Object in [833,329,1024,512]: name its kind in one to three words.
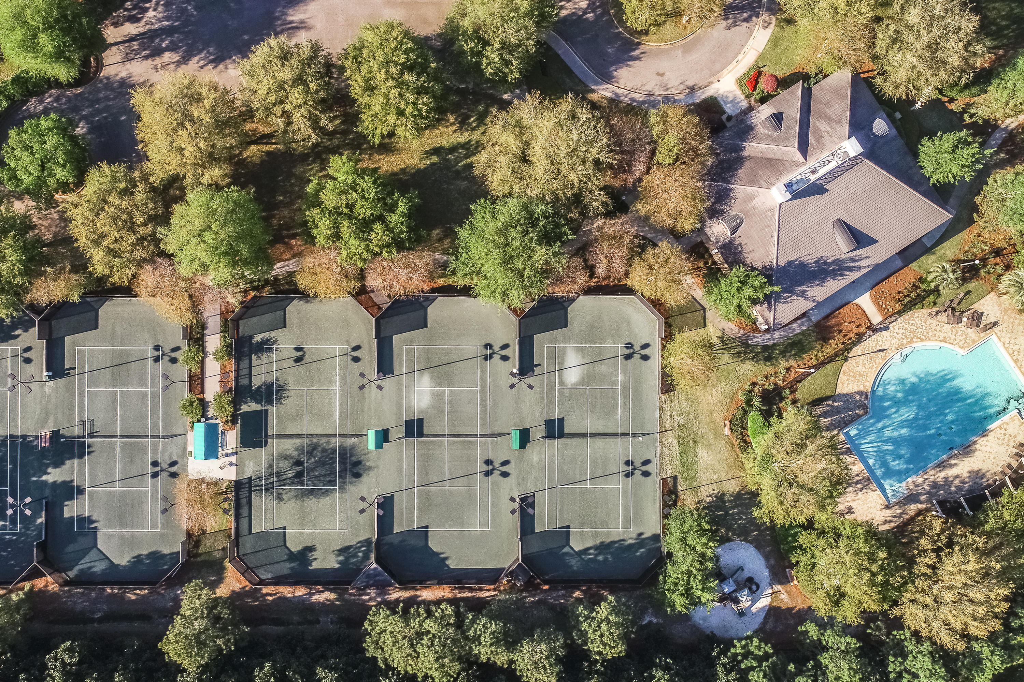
swimming pool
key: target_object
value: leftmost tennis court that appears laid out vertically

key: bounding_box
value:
[0,300,45,582]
